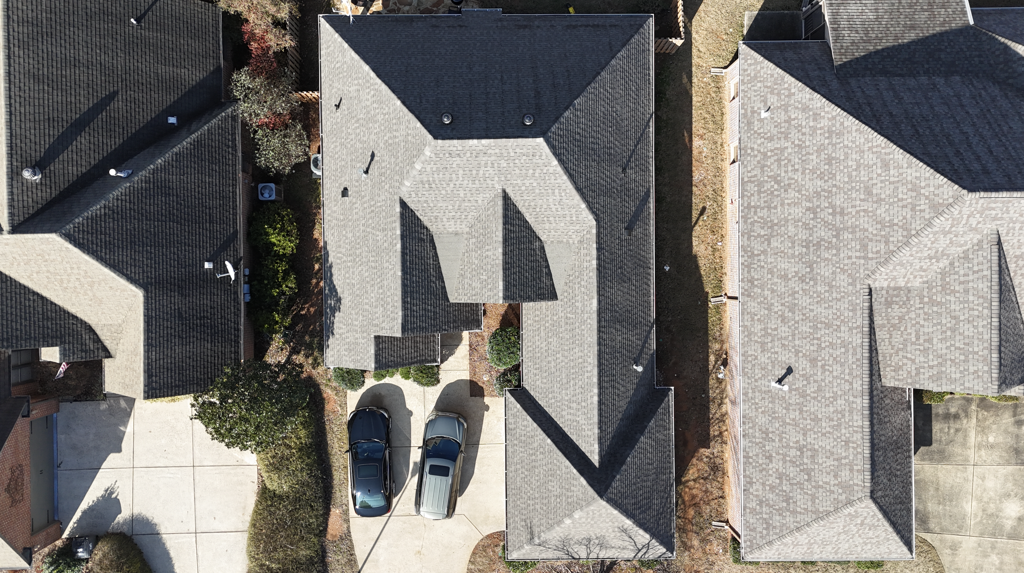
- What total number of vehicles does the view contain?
2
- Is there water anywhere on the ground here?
No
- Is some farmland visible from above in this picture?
No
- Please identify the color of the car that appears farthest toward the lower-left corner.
black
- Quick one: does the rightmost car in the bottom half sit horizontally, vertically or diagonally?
vertically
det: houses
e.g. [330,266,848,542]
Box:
[0,0,251,567]
[319,8,676,561]
[723,0,1024,561]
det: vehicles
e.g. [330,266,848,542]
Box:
[416,411,469,518]
[344,406,396,517]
